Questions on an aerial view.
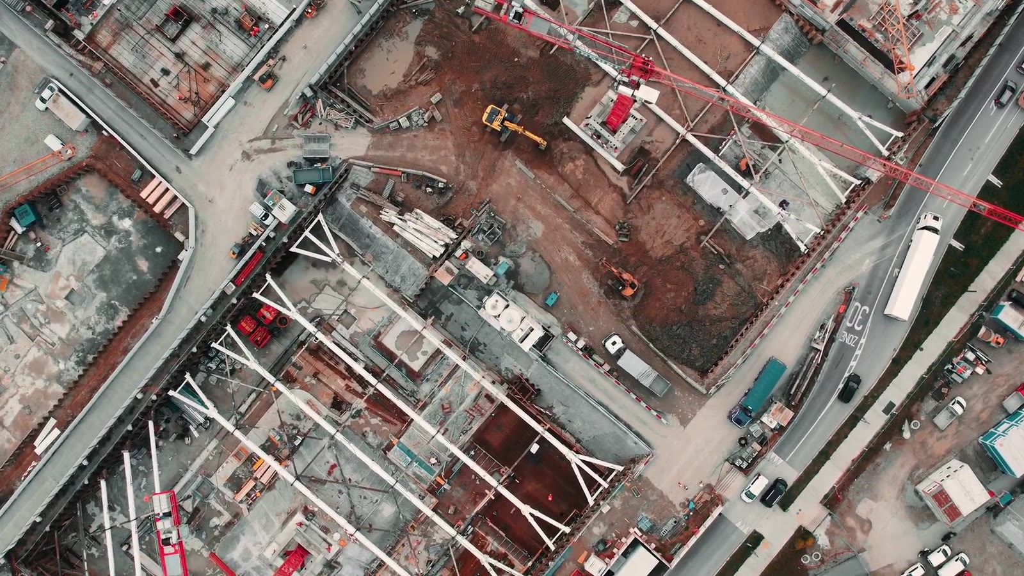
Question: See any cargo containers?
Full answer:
Yes, there's a cargo container here.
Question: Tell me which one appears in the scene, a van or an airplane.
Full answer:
It is a van that can be seen here.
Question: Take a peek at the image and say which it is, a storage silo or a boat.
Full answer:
This aerial view contains a storage silo.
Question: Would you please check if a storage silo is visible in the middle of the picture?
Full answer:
Yes, a storage silo can be seen in the middle of the picture.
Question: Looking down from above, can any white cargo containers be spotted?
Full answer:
Yes, there's a white cargo container here.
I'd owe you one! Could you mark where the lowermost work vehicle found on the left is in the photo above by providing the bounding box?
[226,233,258,259]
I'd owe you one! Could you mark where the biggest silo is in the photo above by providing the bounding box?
[495,301,528,335]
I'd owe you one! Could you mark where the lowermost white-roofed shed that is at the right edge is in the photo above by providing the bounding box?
[912,455,993,528]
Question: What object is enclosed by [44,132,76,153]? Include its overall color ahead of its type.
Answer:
white vehicle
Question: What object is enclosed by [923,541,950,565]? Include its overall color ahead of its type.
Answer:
white car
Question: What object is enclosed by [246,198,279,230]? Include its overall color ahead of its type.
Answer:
white truck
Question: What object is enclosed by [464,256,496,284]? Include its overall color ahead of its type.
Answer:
white shipping container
